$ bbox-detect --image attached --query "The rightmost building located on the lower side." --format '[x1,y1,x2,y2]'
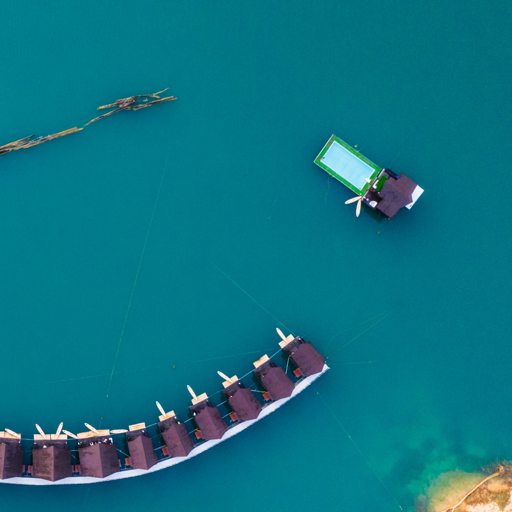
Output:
[278,334,323,381]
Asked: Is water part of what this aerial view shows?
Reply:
Yes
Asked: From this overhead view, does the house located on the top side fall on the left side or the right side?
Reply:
right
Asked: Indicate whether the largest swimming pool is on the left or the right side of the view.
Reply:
right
